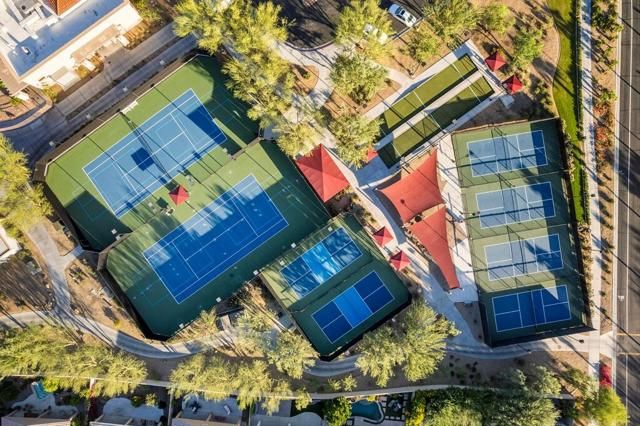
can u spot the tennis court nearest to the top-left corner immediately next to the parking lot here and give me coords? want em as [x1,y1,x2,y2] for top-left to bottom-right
[46,56,262,251]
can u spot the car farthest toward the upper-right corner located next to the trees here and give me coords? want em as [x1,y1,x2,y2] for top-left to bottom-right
[389,5,416,27]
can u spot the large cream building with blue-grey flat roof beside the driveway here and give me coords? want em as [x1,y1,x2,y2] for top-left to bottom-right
[0,0,159,92]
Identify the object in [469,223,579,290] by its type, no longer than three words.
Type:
sports court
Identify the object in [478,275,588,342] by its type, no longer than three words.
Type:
sports court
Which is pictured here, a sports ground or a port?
sports ground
